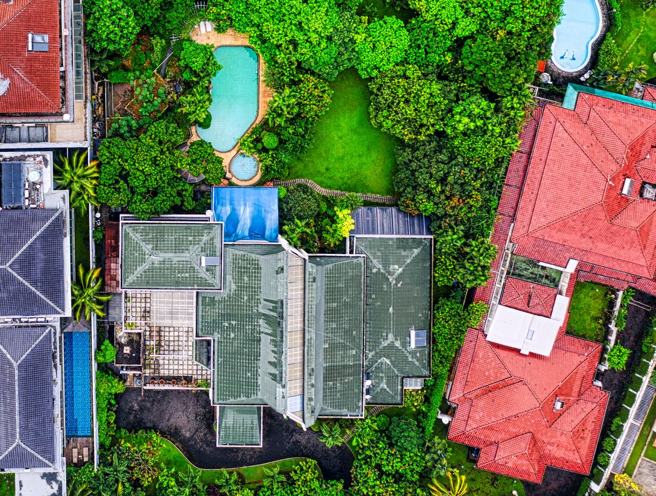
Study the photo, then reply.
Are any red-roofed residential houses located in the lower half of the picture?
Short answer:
Yes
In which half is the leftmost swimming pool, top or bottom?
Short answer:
bottom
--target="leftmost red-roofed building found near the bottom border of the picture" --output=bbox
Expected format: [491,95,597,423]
[445,327,611,485]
